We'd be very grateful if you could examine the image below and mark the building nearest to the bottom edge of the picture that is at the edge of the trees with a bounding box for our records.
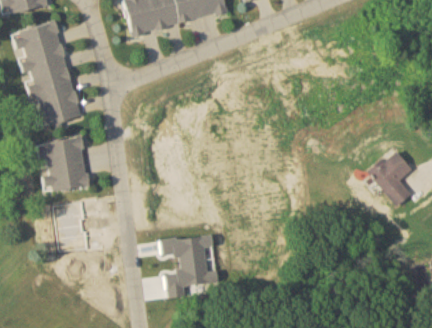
[160,232,218,299]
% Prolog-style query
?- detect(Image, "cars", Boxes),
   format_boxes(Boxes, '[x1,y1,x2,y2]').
[412,192,424,204]
[137,257,143,268]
